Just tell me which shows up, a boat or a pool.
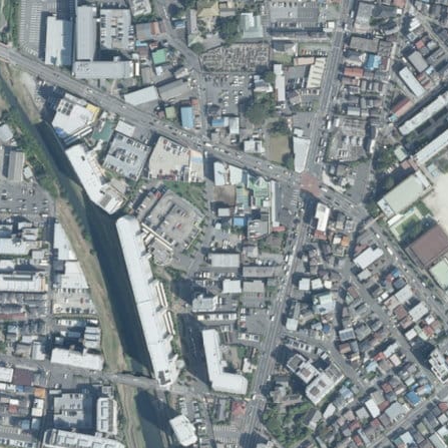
pool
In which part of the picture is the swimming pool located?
right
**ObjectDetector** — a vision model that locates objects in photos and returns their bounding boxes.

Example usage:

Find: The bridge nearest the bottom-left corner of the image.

[101,367,158,389]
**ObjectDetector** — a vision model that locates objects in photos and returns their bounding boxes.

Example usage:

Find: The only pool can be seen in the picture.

[389,206,428,241]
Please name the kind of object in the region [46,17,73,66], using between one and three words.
building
